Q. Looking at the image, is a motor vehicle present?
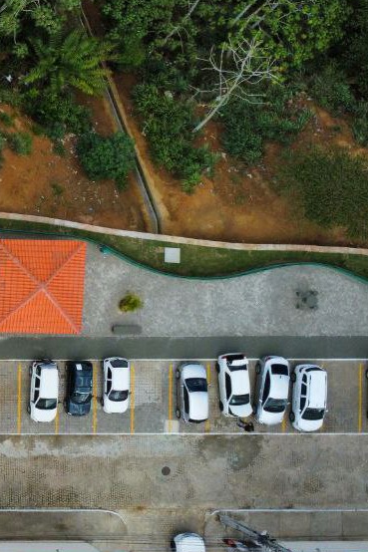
Yes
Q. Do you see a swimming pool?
No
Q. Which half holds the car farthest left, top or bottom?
bottom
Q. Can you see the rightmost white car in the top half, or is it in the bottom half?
bottom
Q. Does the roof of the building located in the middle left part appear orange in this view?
Yes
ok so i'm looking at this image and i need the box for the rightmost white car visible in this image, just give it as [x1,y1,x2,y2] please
[289,364,330,431]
